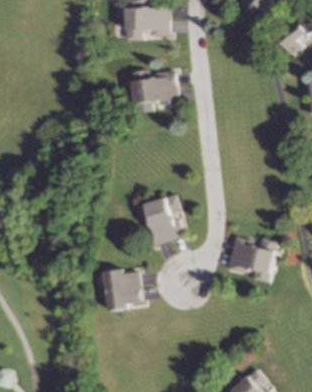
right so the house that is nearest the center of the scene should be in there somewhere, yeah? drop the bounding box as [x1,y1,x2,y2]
[143,194,188,245]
